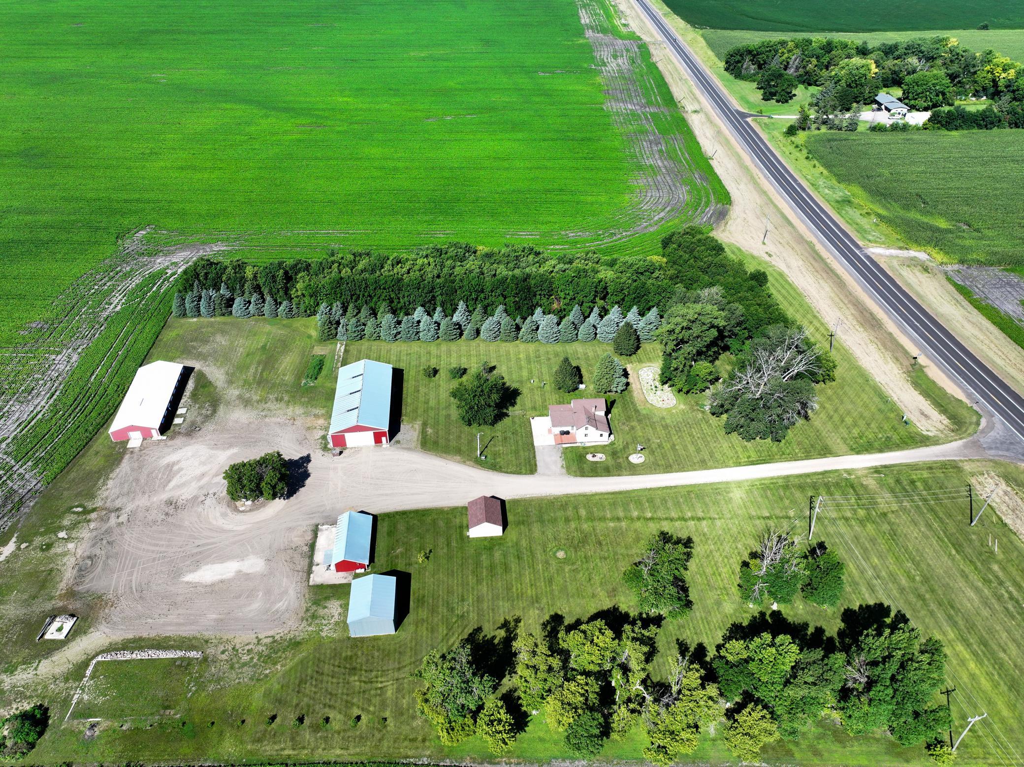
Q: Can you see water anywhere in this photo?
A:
No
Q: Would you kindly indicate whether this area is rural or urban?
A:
rural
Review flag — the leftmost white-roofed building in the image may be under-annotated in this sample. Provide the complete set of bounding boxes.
[109,359,186,441]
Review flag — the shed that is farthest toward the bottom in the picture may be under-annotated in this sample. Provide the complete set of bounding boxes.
[347,572,397,636]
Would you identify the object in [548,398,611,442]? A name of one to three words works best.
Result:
house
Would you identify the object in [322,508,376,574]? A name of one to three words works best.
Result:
shed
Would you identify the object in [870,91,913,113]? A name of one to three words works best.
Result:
house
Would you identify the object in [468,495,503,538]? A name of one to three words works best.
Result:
building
